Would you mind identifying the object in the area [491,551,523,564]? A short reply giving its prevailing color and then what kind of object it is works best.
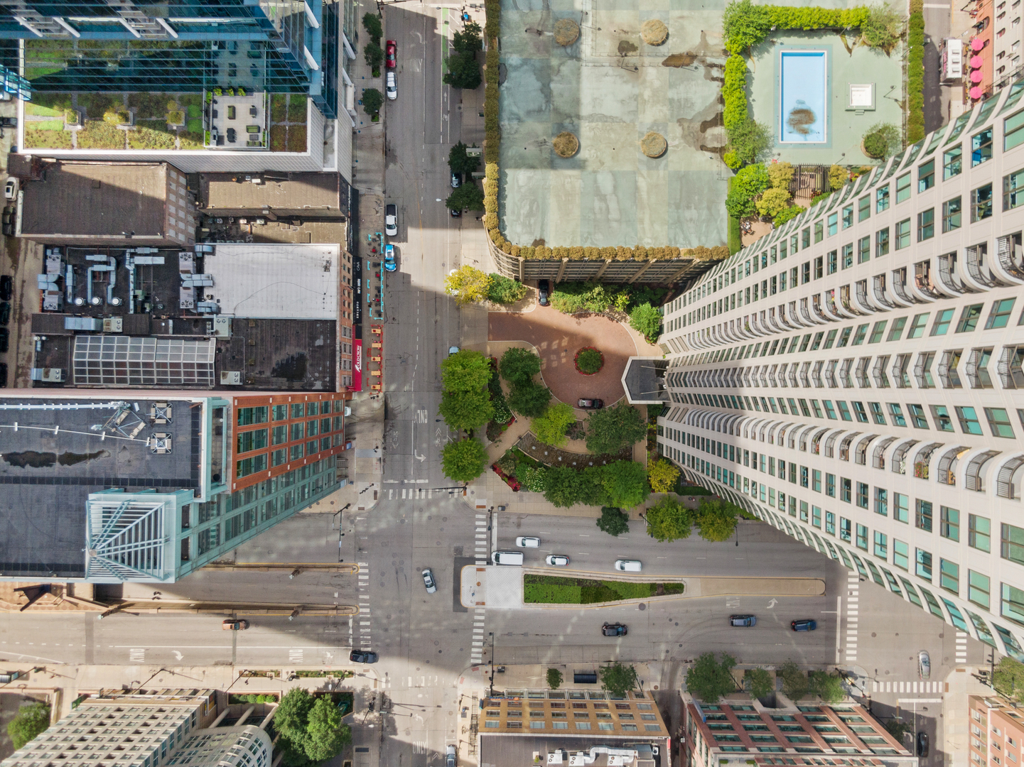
white vehicle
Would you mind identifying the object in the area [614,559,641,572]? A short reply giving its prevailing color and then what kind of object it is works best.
white vehicle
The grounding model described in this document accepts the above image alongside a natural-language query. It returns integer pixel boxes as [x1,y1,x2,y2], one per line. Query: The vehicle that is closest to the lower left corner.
[224,618,249,630]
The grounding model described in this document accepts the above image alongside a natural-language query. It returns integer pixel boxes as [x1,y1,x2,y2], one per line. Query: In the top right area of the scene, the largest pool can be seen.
[780,49,828,145]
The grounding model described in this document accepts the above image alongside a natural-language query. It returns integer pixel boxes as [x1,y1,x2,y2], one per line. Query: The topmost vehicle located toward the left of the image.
[385,42,397,70]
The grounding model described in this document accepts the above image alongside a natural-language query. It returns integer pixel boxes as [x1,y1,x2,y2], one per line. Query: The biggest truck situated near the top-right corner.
[938,37,961,88]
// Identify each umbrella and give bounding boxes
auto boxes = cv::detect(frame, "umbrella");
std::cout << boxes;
[969,56,982,68]
[969,87,981,98]
[968,71,982,82]
[968,39,982,50]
